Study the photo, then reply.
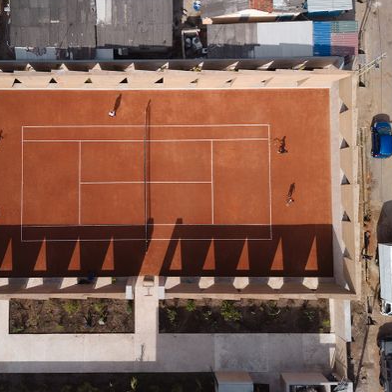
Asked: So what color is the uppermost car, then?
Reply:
blue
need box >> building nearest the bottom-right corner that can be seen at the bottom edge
[280,373,354,392]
